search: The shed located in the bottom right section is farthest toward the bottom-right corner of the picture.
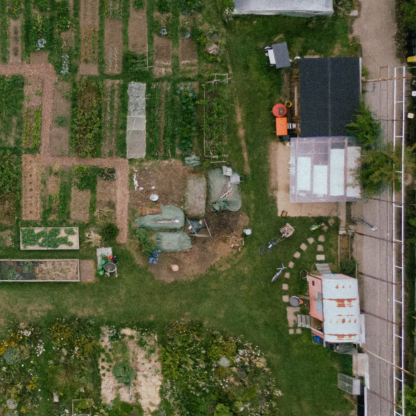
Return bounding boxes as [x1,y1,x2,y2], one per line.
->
[288,263,360,343]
